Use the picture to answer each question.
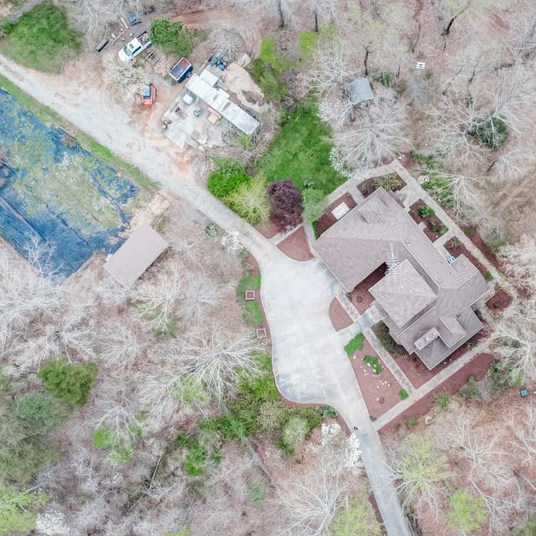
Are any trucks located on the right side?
No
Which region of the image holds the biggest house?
right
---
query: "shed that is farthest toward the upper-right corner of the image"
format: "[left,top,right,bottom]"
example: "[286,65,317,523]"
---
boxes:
[349,79,373,108]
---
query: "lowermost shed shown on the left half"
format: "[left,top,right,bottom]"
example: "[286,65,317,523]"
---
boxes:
[103,226,170,287]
